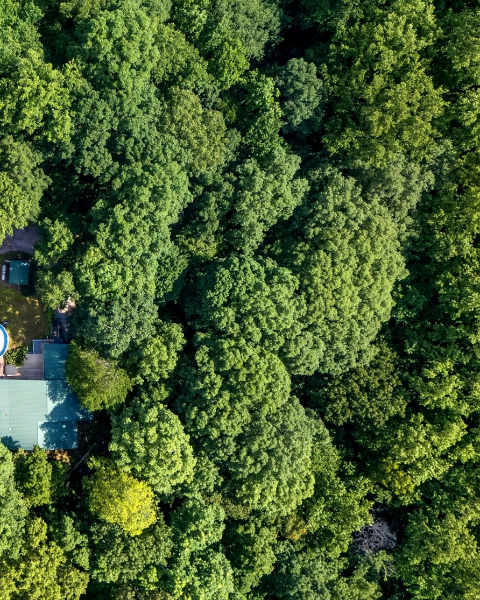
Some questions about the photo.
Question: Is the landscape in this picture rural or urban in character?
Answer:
rural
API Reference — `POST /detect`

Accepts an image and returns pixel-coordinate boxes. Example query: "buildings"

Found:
[0,344,93,450]
[8,260,29,284]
